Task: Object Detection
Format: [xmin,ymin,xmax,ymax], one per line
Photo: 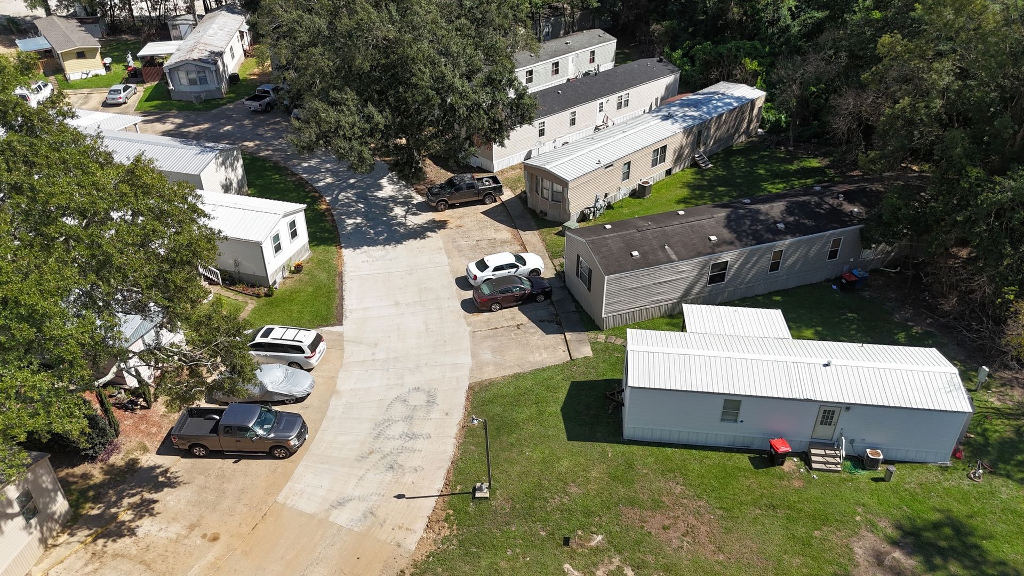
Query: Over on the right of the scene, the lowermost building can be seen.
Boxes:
[599,326,977,463]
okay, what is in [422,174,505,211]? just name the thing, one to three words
truck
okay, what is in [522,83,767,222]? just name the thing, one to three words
house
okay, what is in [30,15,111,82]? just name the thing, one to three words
house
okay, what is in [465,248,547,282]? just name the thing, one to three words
car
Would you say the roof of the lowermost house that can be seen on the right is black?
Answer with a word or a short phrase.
No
